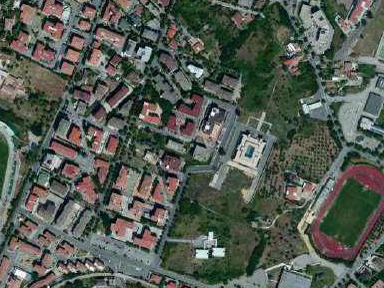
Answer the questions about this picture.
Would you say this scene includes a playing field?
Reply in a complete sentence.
Yes, the picture does show a playing field.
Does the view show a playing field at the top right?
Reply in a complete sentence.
No, looking at the top right, there is no playing field.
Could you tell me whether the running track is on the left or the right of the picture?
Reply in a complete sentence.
It is on the right.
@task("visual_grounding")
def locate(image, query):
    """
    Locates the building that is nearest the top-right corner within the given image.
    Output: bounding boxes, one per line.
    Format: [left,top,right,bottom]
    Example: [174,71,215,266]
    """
[335,0,373,35]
